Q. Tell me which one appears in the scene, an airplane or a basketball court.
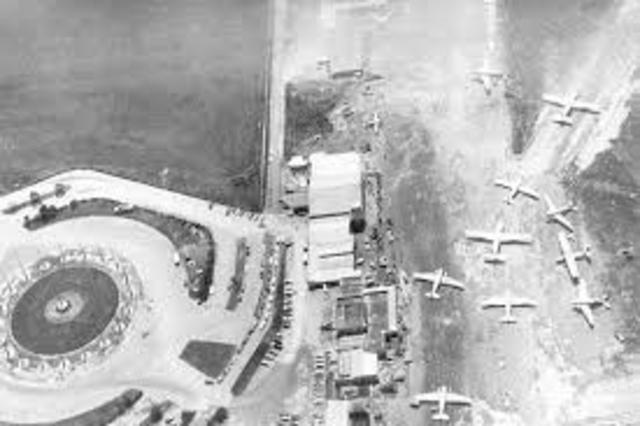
airplane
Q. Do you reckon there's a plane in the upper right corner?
Yes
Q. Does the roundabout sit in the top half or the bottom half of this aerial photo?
bottom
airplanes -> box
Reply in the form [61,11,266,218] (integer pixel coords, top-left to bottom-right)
[465,220,532,260]
[543,91,601,122]
[364,110,381,129]
[576,280,609,327]
[413,268,465,299]
[494,179,539,206]
[482,290,536,323]
[545,192,578,231]
[315,61,332,71]
[558,235,592,282]
[412,385,472,422]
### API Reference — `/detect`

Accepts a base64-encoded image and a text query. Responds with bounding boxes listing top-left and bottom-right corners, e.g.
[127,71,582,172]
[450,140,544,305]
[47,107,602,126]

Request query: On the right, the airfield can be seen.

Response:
[282,0,640,426]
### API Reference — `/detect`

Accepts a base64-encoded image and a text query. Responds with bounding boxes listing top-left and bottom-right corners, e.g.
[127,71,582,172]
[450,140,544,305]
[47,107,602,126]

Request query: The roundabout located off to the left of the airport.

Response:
[0,244,144,379]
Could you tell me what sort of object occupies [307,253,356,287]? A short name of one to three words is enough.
hangar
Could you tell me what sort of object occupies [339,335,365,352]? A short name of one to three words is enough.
shed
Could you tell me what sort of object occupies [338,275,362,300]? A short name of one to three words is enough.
building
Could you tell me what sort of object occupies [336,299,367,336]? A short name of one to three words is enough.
building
